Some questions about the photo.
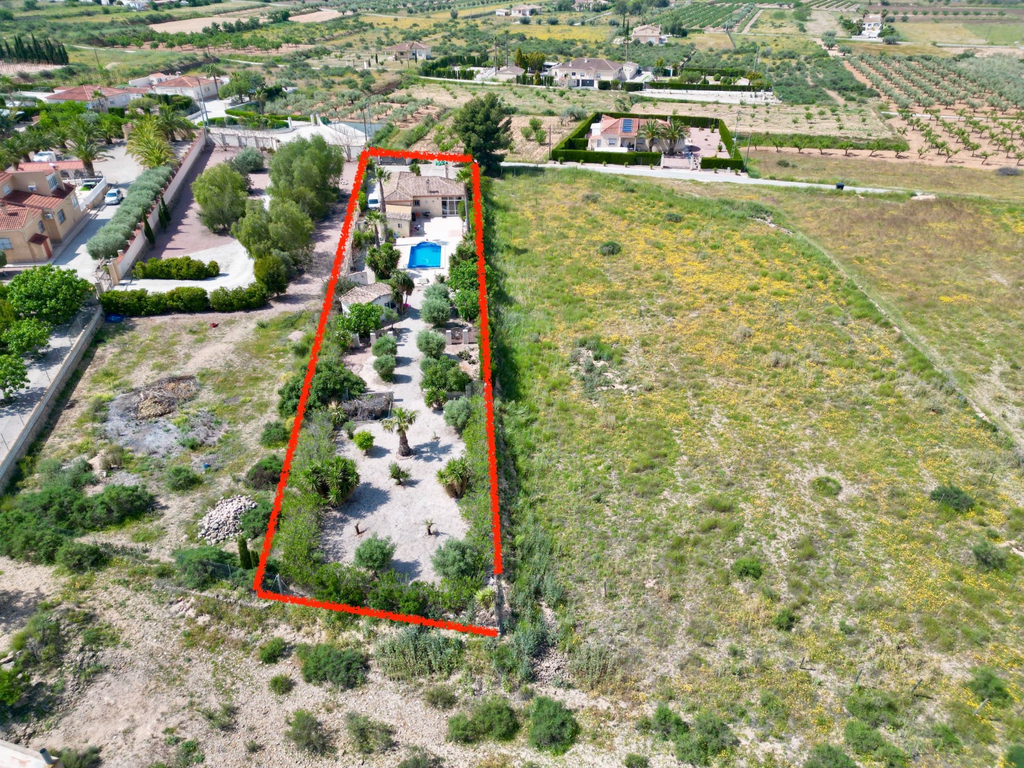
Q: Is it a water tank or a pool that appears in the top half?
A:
pool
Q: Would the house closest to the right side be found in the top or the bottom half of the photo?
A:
top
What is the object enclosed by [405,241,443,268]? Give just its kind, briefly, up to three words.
swimming pool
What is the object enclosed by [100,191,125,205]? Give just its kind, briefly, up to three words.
car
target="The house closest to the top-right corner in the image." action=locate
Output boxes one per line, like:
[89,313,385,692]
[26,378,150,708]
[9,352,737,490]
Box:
[853,14,899,38]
